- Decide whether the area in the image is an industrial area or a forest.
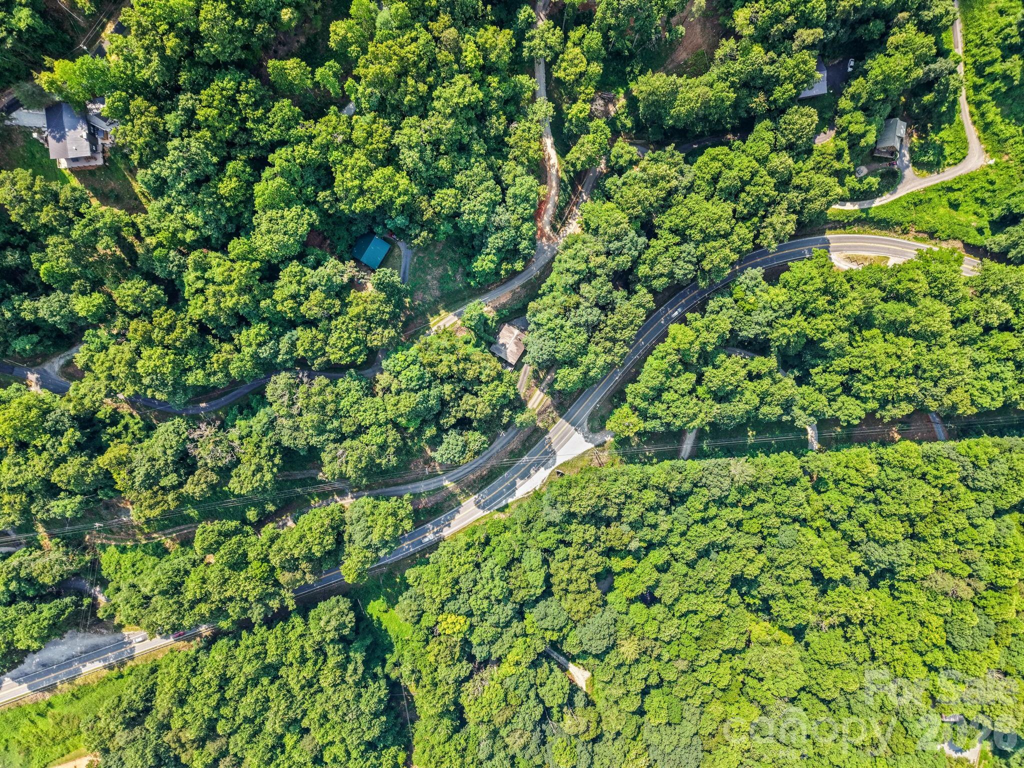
forest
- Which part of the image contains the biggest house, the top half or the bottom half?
top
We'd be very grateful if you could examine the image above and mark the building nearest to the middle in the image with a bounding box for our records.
[490,324,529,373]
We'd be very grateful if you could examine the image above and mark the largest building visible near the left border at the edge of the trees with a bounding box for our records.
[33,103,116,170]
